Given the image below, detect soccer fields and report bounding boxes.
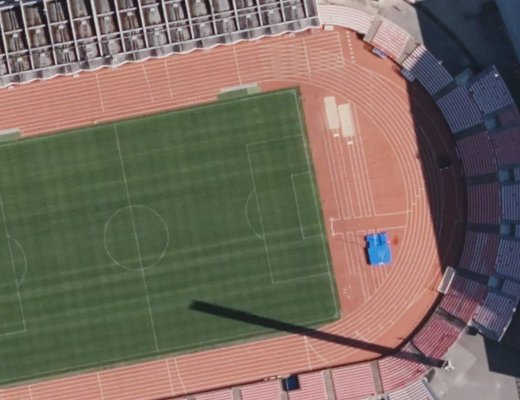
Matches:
[0,85,345,390]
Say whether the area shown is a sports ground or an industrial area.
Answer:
sports ground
